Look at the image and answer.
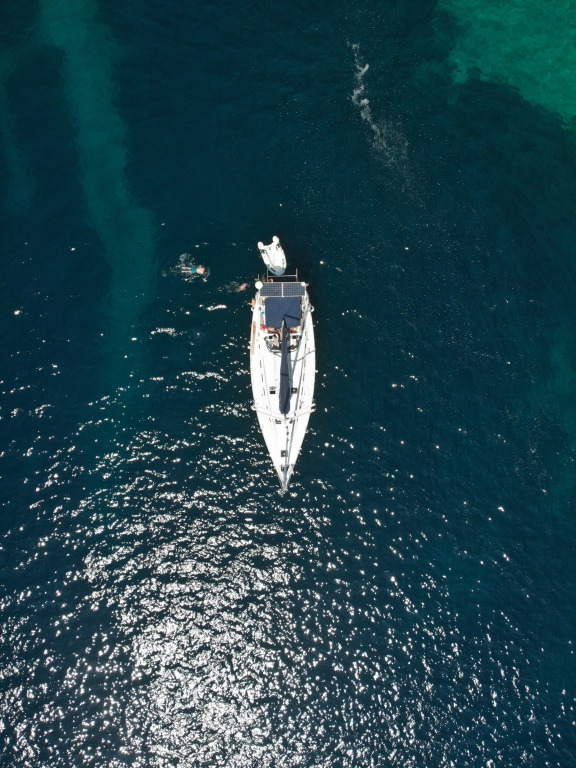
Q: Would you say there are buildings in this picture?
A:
No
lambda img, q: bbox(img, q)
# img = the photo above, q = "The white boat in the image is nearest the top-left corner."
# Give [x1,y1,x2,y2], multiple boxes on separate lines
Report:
[258,238,284,274]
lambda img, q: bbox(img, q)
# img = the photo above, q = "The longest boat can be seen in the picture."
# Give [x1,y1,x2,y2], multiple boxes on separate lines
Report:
[250,268,318,495]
